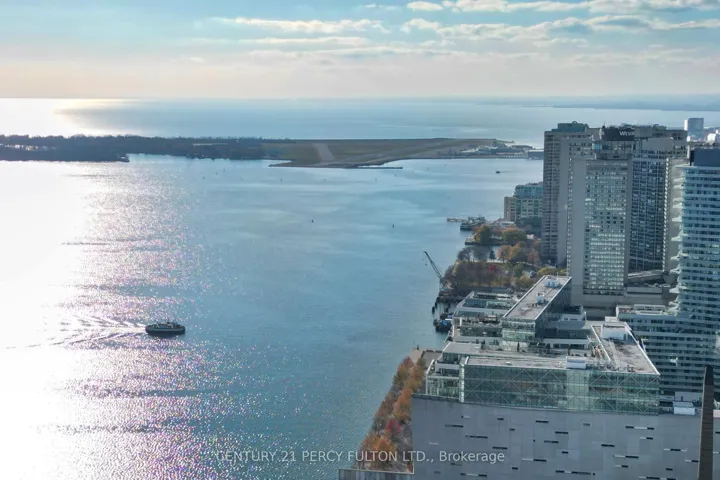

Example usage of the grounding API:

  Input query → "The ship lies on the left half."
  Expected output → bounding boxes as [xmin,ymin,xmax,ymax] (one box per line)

[145,320,186,334]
